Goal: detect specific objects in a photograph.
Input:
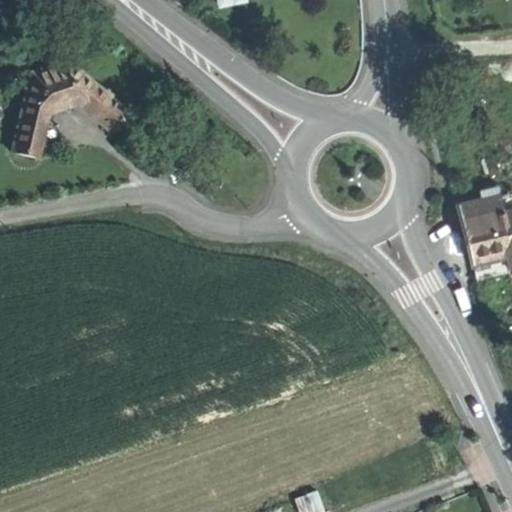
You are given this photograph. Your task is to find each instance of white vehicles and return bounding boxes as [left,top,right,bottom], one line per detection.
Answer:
[430,225,452,243]
[466,396,484,418]
[454,288,474,317]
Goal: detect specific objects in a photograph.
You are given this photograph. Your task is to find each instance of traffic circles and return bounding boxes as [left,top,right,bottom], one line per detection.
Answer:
[274,98,430,255]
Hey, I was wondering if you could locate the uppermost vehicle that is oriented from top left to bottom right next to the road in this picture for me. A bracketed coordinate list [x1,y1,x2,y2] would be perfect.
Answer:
[439,260,458,284]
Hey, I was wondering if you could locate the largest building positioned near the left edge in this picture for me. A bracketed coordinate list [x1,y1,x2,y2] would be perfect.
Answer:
[20,66,126,159]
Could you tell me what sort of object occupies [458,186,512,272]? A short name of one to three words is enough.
house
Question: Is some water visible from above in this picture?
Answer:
No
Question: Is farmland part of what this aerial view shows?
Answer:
Yes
